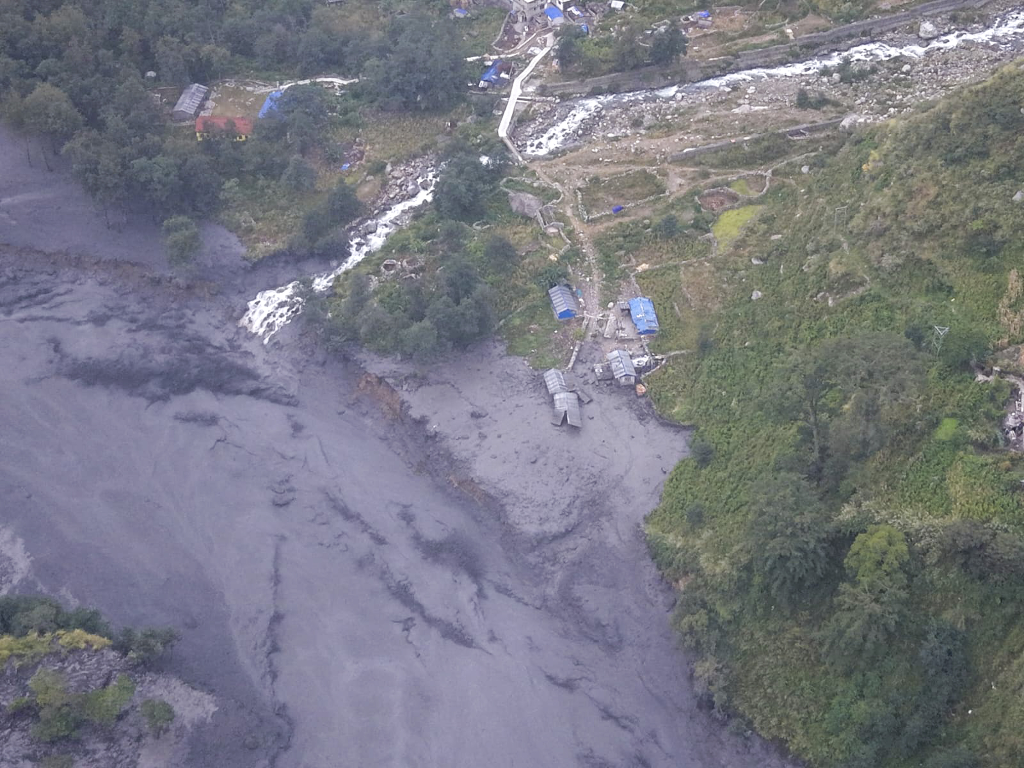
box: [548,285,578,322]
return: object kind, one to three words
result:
shed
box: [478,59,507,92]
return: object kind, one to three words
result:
shed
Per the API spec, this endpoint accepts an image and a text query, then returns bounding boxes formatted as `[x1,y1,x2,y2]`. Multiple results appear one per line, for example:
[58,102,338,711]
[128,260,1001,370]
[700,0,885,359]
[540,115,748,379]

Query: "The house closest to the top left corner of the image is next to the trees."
[171,83,208,122]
